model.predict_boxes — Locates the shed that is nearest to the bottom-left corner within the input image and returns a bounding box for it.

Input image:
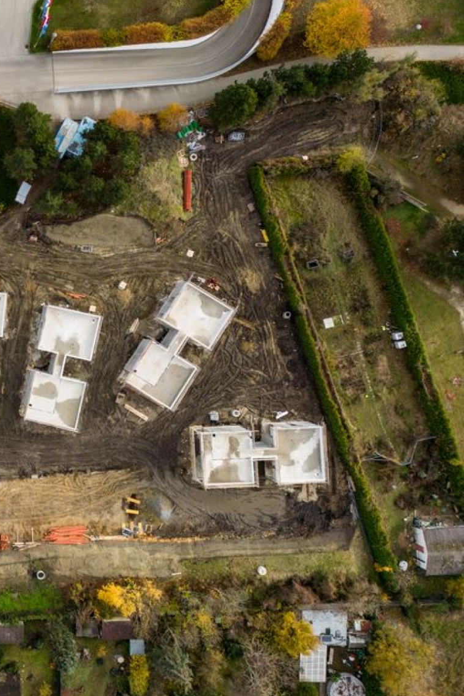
[0,619,24,643]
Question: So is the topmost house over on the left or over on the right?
right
